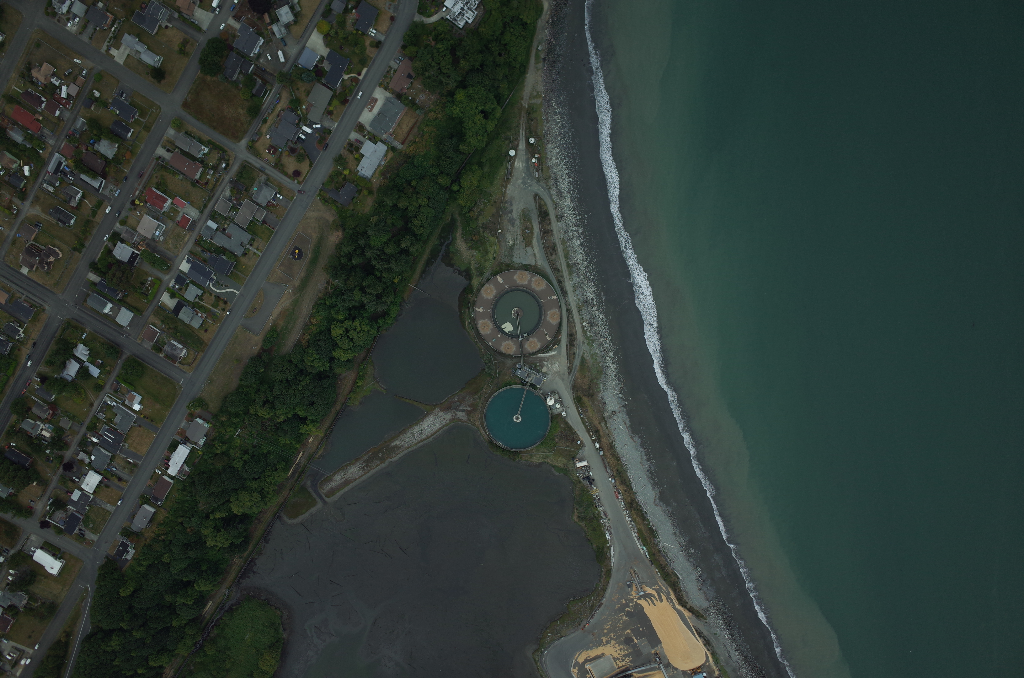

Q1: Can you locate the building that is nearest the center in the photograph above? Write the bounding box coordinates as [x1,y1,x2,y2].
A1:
[515,366,547,387]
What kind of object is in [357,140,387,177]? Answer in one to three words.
house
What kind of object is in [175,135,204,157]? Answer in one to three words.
house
